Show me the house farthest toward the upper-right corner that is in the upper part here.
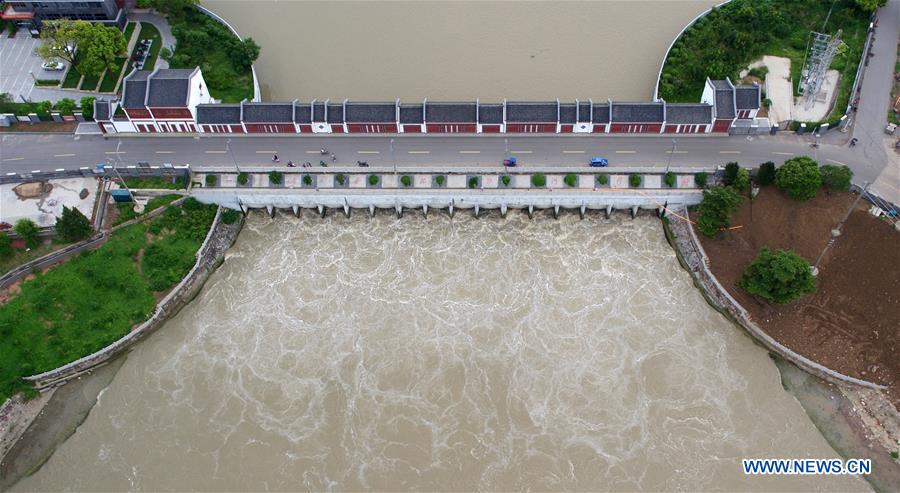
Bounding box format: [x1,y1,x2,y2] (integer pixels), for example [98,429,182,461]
[738,84,764,120]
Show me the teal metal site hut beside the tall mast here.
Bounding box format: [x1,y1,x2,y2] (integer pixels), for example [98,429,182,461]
[106,189,132,207]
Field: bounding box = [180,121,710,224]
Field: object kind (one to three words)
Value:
bridge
